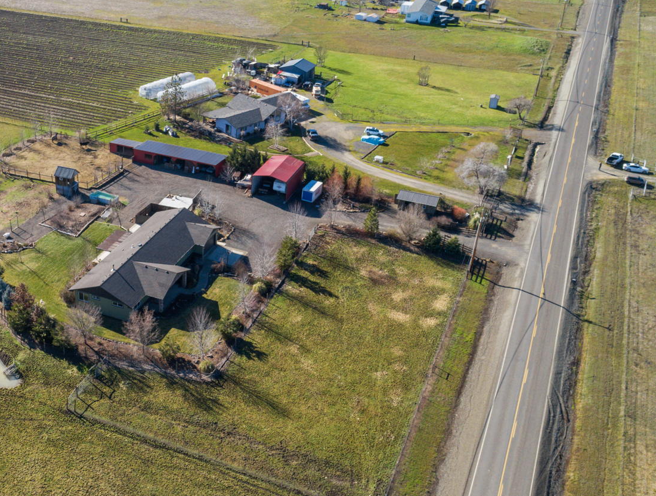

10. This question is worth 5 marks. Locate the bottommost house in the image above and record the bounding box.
[68,206,222,321]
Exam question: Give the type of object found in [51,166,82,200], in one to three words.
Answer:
shed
